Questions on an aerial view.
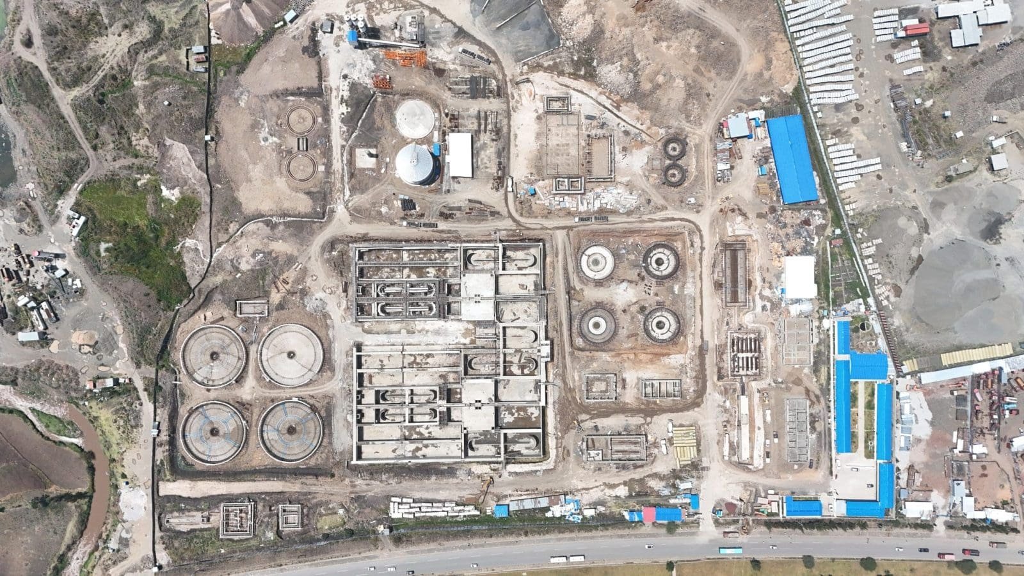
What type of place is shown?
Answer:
industrial area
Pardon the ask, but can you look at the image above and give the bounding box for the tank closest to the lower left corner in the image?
[179,398,246,465]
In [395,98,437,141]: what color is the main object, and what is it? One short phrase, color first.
white storage tank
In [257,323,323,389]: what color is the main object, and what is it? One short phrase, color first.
white storage tank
